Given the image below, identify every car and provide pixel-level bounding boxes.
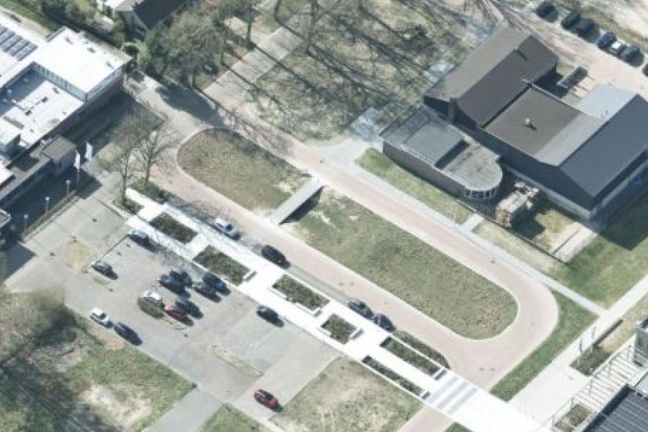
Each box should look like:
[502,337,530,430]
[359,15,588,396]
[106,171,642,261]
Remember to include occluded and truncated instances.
[253,388,281,409]
[88,256,117,280]
[368,311,396,332]
[619,42,642,62]
[125,226,154,247]
[213,217,239,237]
[259,243,288,266]
[596,30,617,50]
[174,296,203,318]
[608,37,628,55]
[642,64,648,76]
[345,296,374,319]
[201,269,230,292]
[559,10,582,31]
[112,321,142,343]
[574,15,596,36]
[156,270,185,292]
[189,278,219,300]
[163,299,189,321]
[167,266,194,286]
[85,305,112,327]
[536,0,557,20]
[255,304,282,325]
